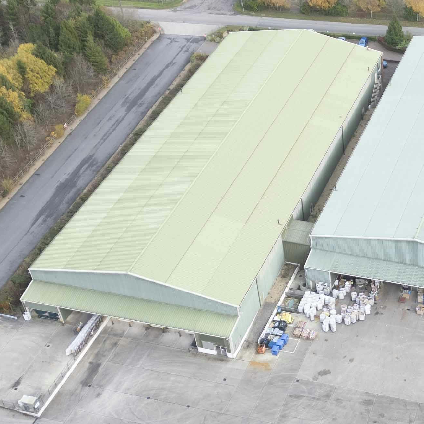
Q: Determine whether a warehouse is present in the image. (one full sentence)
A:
Yes, a warehouse is visible in the scene.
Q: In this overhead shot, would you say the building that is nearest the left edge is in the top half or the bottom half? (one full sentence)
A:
The bottom half of the photo is where the building that is nearest the left edge is.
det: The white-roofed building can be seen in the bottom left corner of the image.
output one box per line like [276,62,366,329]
[15,389,40,410]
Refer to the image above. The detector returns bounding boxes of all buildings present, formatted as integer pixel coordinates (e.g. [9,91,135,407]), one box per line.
[302,34,424,306]
[20,25,384,359]
[15,389,40,410]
